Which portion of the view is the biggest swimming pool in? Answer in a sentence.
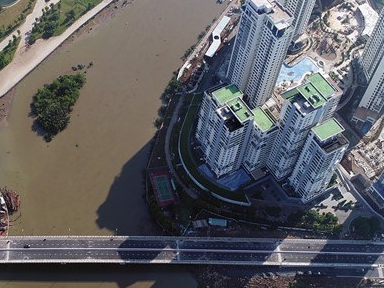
Look in the top right portion of the view to spot the biggest swimming pool.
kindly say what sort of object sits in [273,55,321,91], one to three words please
swimming pool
